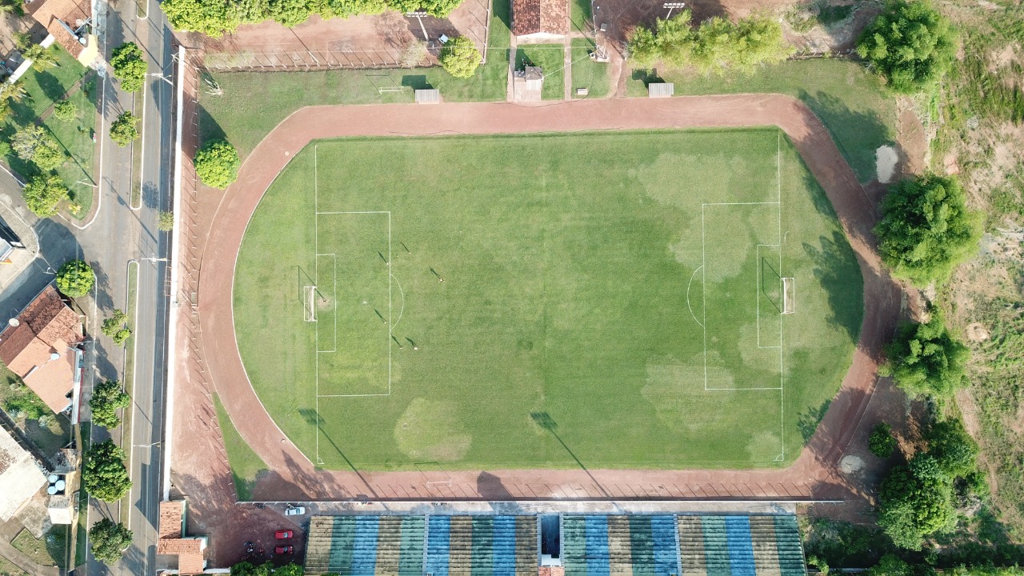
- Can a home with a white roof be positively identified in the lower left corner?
Yes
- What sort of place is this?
sports ground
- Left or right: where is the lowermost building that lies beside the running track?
left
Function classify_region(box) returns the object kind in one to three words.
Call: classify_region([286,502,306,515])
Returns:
vehicle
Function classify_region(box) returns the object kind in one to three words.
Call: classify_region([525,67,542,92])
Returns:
shed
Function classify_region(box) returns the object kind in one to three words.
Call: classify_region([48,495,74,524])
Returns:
shed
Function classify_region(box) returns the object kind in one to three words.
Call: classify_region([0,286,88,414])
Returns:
house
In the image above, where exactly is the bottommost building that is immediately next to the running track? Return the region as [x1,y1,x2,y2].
[157,498,209,574]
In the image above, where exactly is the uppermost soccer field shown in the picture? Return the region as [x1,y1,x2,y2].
[232,126,863,471]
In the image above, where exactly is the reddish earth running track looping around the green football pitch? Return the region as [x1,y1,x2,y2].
[198,93,901,502]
